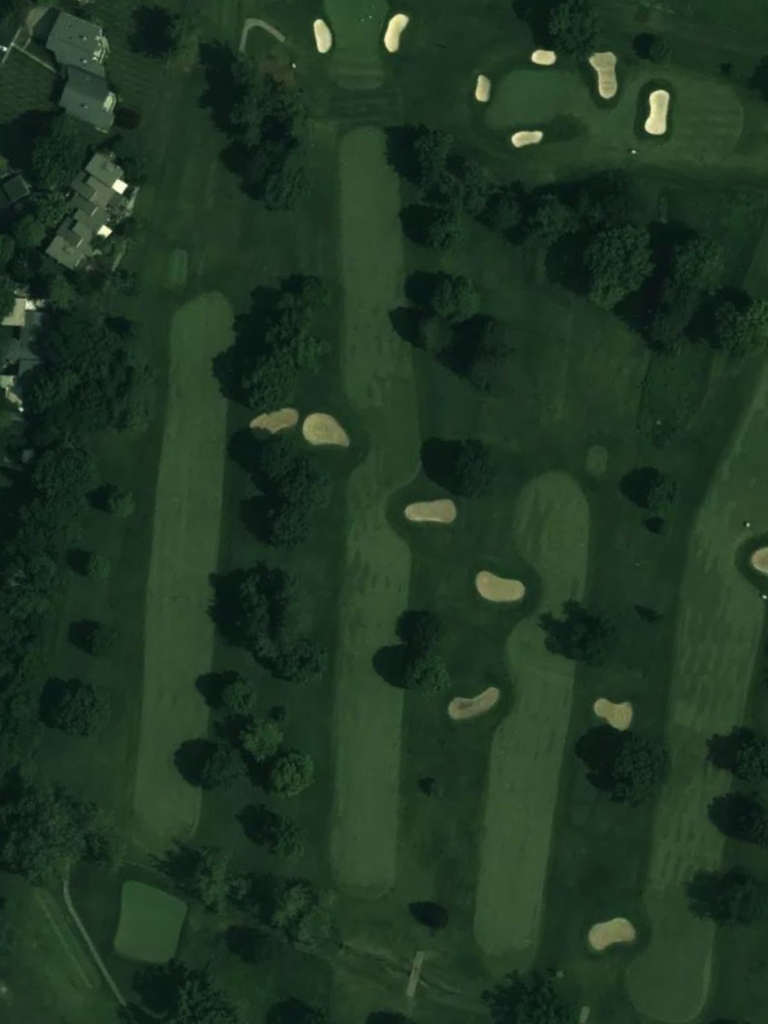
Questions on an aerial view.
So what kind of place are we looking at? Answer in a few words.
golf course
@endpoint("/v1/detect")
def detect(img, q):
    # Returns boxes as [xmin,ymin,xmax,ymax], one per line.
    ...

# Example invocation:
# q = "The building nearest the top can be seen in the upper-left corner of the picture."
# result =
[46,12,109,77]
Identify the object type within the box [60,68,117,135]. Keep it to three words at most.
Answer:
house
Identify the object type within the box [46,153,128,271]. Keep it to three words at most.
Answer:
house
